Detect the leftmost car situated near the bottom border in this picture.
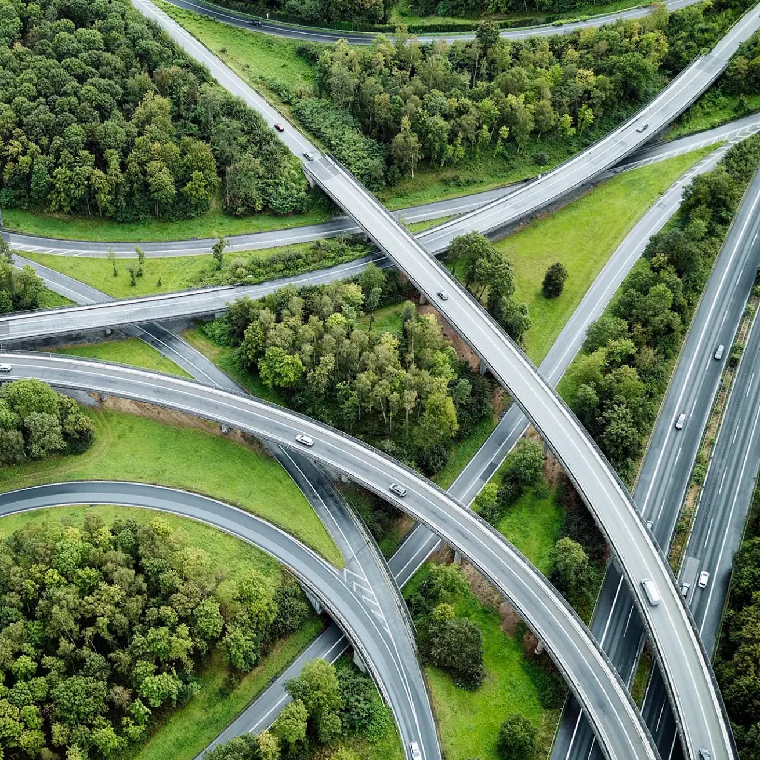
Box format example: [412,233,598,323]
[410,740,423,760]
